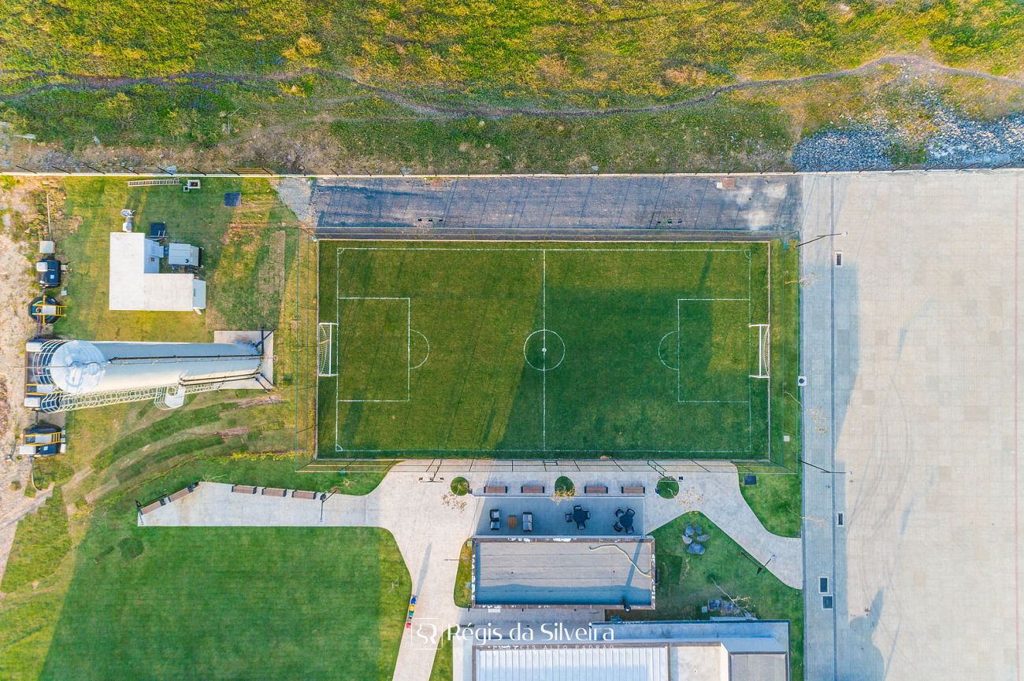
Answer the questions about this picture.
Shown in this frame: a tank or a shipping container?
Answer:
tank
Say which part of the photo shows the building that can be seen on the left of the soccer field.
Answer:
left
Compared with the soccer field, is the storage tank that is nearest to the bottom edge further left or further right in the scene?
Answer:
to its left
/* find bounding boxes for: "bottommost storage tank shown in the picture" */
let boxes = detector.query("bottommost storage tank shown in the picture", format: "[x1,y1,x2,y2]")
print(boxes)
[10,428,63,488]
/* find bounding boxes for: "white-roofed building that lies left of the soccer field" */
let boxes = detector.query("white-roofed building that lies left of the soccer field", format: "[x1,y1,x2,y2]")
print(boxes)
[109,232,207,312]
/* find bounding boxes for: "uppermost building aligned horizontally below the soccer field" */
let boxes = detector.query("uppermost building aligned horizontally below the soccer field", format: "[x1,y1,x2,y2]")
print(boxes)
[473,536,655,613]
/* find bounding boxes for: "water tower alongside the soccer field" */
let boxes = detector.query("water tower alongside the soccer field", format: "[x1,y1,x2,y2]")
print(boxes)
[13,325,279,412]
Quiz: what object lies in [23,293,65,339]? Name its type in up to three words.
storage tank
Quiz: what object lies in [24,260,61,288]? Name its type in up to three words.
storage tank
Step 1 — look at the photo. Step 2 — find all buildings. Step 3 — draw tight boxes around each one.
[109,232,207,312]
[473,536,655,613]
[473,615,789,681]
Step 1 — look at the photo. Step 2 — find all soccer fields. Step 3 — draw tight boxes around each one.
[316,237,771,462]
